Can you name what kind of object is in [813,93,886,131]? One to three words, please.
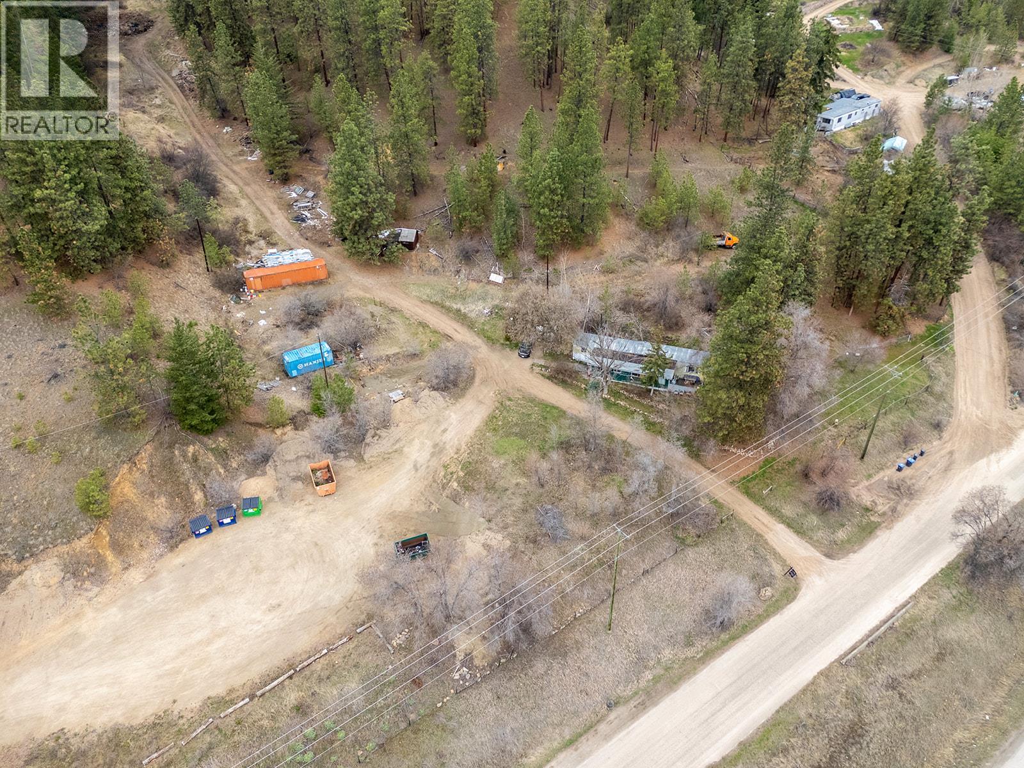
house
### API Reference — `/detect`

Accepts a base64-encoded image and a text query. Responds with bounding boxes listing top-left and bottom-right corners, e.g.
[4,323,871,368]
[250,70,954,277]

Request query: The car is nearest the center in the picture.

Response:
[519,333,537,354]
